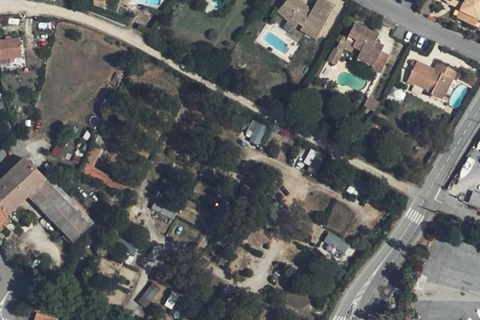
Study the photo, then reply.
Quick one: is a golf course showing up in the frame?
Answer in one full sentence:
No, no golf course is visible in the view.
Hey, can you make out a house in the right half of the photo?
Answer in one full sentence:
Yes, a house can be seen in the right half of the photo.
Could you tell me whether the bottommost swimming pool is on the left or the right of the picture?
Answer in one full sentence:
The bottommost swimming pool appears in the right half of the scene.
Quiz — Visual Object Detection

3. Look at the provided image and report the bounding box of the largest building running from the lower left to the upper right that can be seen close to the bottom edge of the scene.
[134,280,160,308]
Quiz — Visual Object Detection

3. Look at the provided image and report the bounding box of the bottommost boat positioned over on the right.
[460,157,476,178]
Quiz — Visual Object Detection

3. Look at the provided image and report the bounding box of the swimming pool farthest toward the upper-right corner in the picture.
[447,84,468,110]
